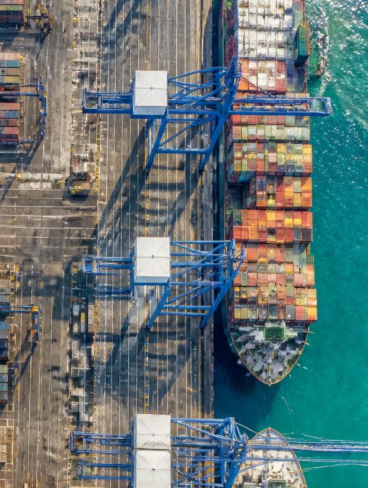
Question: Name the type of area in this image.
port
